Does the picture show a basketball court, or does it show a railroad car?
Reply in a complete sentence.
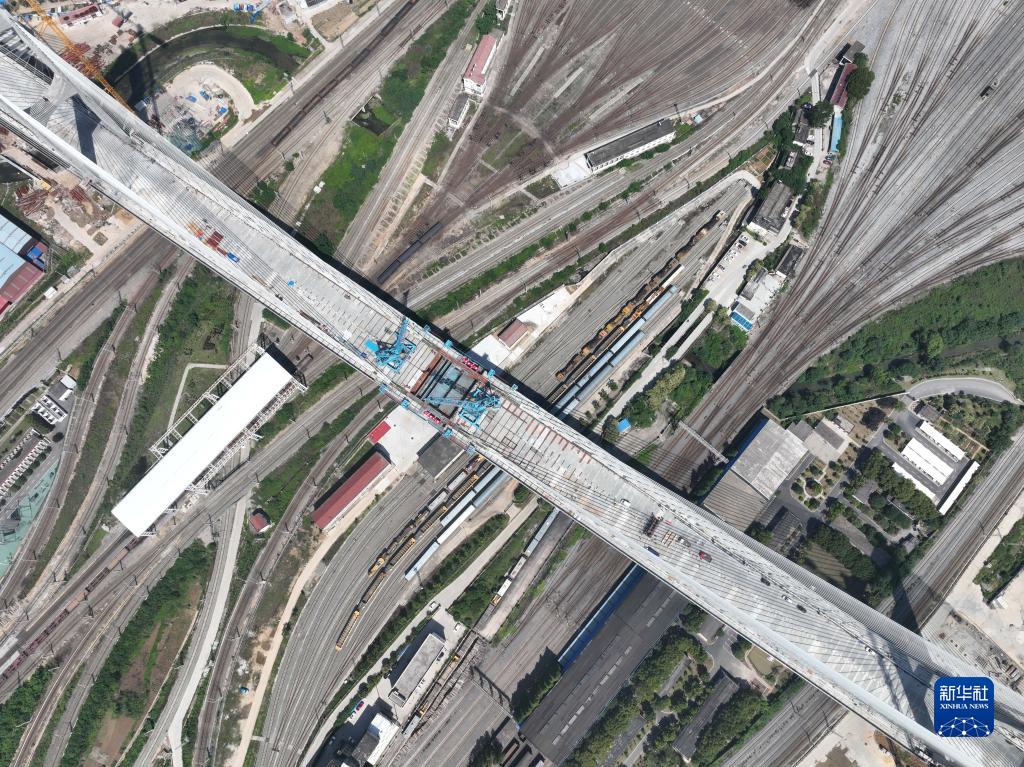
Visible in the photo is a railroad car.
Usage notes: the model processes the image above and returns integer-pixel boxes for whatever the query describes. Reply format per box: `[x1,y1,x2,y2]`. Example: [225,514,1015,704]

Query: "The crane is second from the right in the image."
[374,317,415,371]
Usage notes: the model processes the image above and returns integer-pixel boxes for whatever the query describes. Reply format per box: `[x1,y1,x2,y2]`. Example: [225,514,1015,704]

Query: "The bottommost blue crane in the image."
[427,391,501,429]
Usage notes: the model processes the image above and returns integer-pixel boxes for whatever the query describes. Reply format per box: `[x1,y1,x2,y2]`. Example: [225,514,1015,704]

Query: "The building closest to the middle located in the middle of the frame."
[498,318,530,348]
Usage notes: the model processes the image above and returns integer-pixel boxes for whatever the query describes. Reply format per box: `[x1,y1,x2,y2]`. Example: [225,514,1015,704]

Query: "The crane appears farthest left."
[14,0,163,136]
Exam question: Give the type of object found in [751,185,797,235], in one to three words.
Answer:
building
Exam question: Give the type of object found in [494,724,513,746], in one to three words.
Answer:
rail car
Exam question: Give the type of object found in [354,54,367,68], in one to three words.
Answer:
rail car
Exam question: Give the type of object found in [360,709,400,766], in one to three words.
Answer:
building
